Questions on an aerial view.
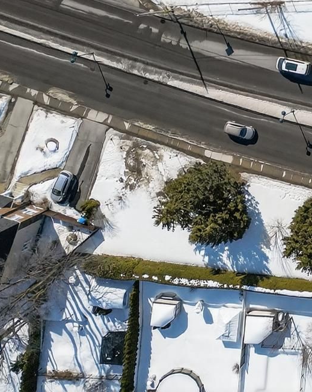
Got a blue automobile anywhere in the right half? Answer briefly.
No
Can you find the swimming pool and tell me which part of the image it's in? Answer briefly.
bottom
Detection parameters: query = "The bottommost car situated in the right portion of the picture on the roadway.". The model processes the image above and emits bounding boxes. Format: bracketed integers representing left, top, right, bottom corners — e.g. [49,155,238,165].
[225,122,256,140]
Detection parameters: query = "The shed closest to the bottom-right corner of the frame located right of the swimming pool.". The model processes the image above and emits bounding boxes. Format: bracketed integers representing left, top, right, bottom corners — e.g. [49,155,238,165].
[239,353,295,392]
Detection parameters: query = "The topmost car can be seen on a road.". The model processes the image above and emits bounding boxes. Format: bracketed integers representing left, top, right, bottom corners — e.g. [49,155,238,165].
[278,56,312,78]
